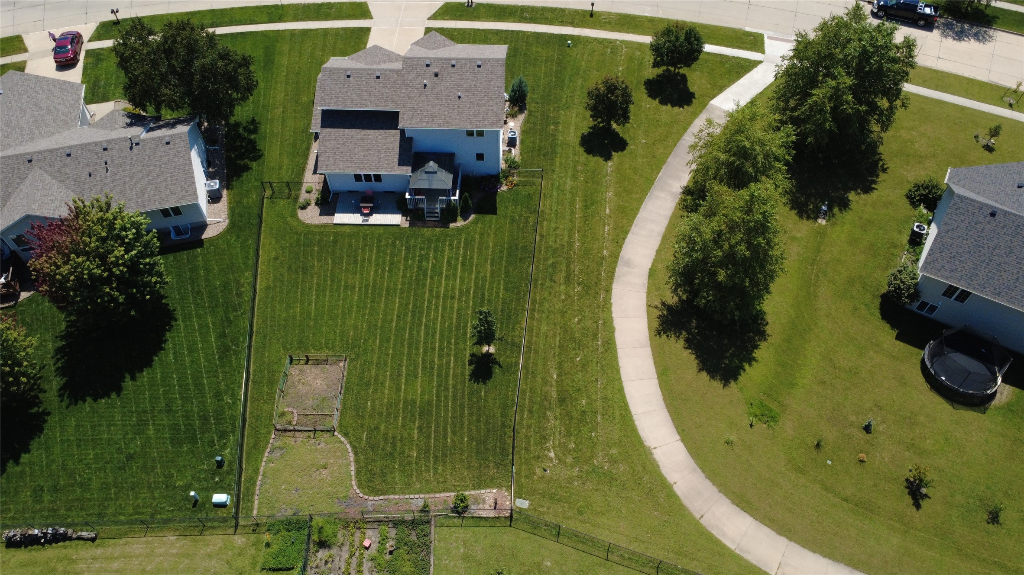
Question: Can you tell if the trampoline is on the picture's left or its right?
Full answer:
You can find the trampoline on the right side of the picture.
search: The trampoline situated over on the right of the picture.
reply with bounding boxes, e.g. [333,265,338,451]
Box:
[918,314,1024,402]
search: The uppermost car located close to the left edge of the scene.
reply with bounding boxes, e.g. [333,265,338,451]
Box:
[50,30,82,64]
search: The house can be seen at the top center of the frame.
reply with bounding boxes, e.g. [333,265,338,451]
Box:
[313,29,508,206]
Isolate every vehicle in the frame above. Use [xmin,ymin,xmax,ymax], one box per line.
[50,30,82,64]
[872,0,940,26]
